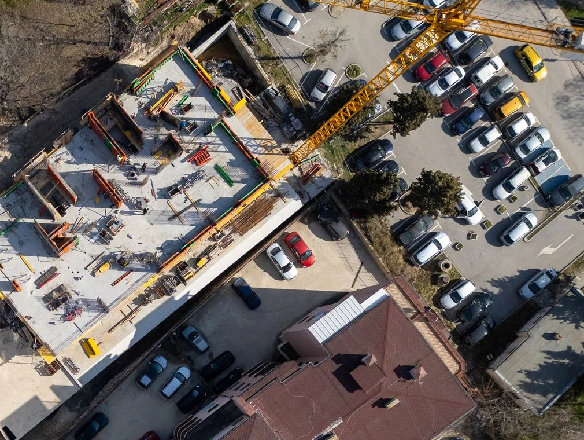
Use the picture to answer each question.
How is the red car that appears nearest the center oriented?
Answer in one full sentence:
From this overhead view, the red car that appears nearest the center appears to run on a diagonal.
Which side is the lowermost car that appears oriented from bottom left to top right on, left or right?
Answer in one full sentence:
The lowermost car that appears oriented from bottom left to top right sits on the left side.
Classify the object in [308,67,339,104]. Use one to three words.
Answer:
car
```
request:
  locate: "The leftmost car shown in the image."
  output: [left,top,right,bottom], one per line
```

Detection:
[73,409,111,440]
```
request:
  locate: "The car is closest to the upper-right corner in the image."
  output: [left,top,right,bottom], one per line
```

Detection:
[514,42,550,83]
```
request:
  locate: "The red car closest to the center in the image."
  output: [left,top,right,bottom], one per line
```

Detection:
[282,230,315,269]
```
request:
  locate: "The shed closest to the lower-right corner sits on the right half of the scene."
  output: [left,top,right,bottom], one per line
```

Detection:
[481,286,584,414]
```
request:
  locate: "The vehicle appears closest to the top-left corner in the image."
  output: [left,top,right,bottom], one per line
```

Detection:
[259,3,300,36]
